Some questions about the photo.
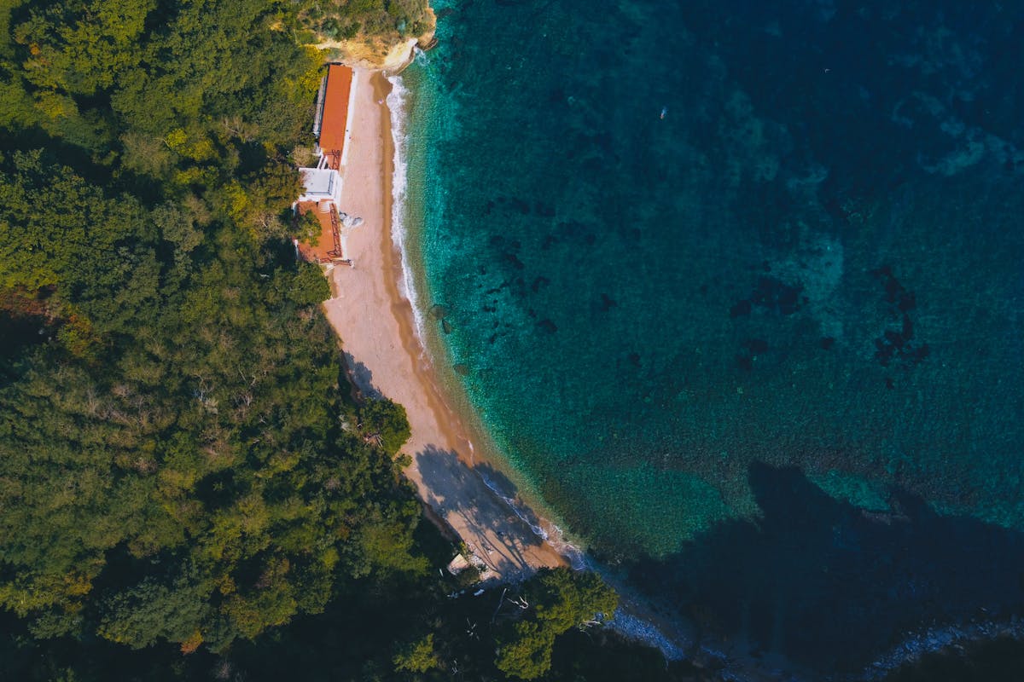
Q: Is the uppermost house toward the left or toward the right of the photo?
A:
left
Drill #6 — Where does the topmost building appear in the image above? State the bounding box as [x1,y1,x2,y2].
[319,64,353,148]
